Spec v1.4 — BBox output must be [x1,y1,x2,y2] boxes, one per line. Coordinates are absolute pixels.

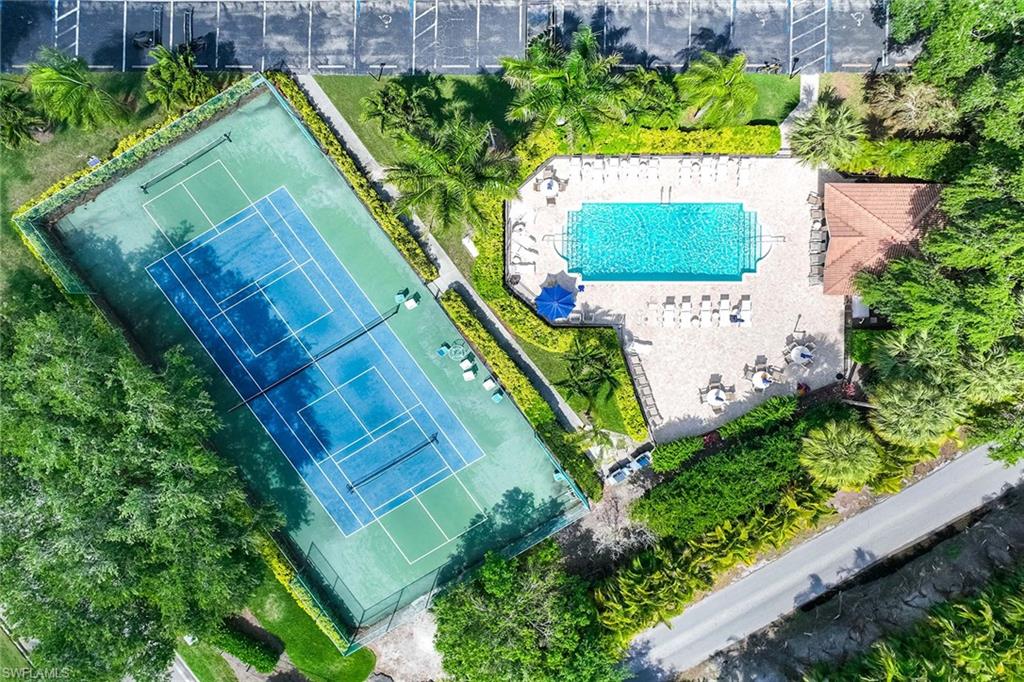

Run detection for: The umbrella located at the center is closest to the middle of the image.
[535,282,577,324]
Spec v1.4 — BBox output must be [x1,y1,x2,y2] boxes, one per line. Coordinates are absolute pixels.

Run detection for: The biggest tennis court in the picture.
[58,92,576,633]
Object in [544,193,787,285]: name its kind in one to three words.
swimming pool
